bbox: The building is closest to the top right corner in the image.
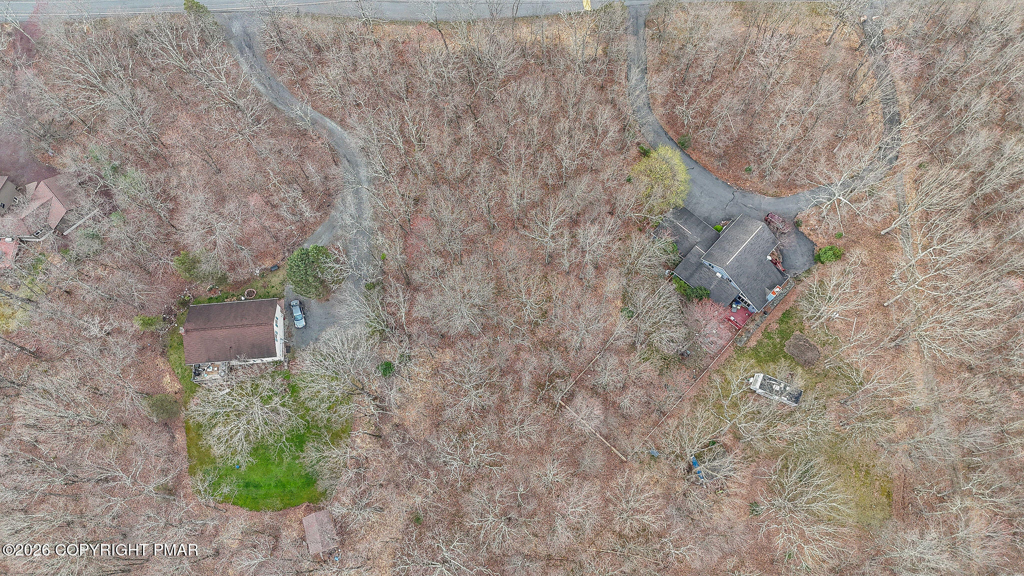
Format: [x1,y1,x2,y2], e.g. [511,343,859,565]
[651,207,789,316]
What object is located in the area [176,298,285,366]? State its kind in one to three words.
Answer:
house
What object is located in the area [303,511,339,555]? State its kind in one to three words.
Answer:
shed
